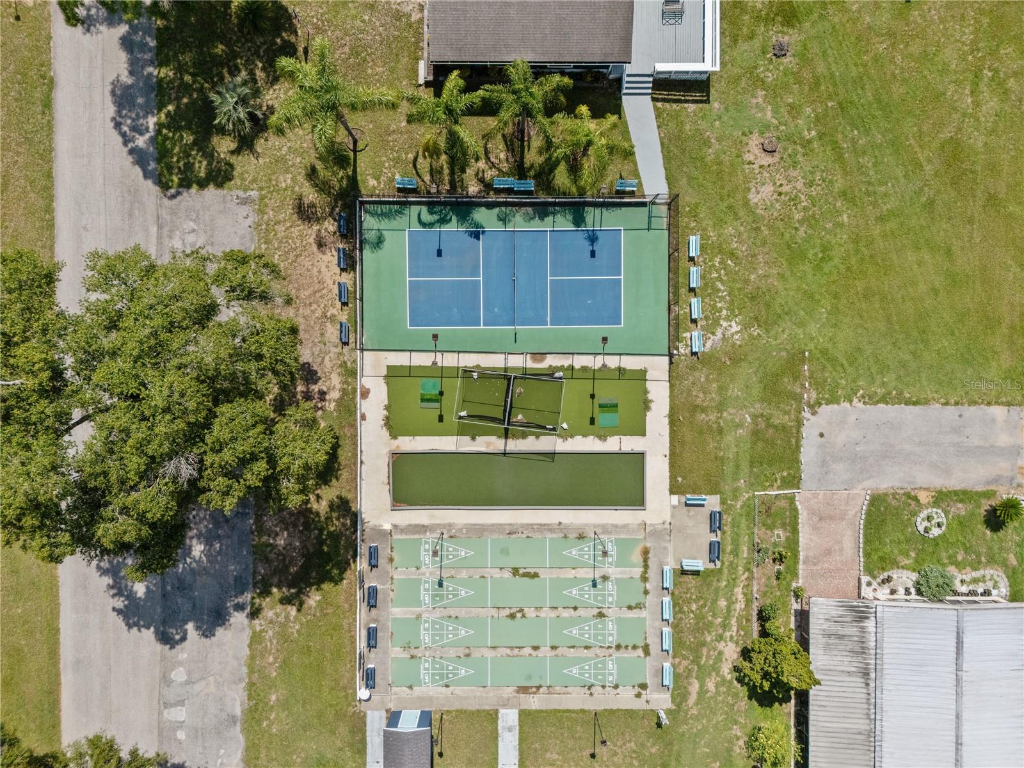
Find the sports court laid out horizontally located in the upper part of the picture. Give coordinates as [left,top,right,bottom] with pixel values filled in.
[362,203,670,354]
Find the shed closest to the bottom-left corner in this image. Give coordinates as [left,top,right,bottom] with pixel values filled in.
[384,710,432,768]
